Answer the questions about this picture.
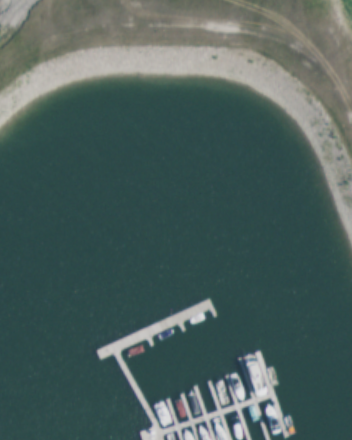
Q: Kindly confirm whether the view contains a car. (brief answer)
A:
No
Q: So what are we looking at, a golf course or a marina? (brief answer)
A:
marina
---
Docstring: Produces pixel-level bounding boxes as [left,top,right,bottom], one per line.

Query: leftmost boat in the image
[128,340,145,356]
